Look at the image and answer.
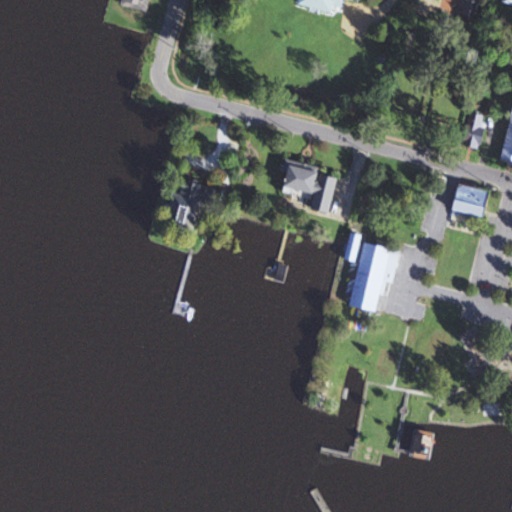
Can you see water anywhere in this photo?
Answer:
Yes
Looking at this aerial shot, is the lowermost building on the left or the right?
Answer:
right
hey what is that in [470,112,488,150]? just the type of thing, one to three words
house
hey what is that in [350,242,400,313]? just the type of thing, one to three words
building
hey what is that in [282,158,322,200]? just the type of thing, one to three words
house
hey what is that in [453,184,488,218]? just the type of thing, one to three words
building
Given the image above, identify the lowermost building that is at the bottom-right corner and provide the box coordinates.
[409,430,436,460]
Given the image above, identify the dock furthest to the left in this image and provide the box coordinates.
[172,253,192,317]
